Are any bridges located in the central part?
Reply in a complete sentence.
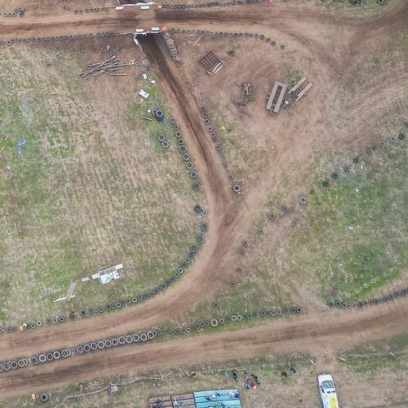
No, I can find no bridge in the central part.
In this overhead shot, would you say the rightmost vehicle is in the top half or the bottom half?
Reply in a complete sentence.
You can find the rightmost vehicle in the bottom half.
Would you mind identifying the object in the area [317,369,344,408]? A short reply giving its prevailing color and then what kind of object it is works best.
white vehicle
